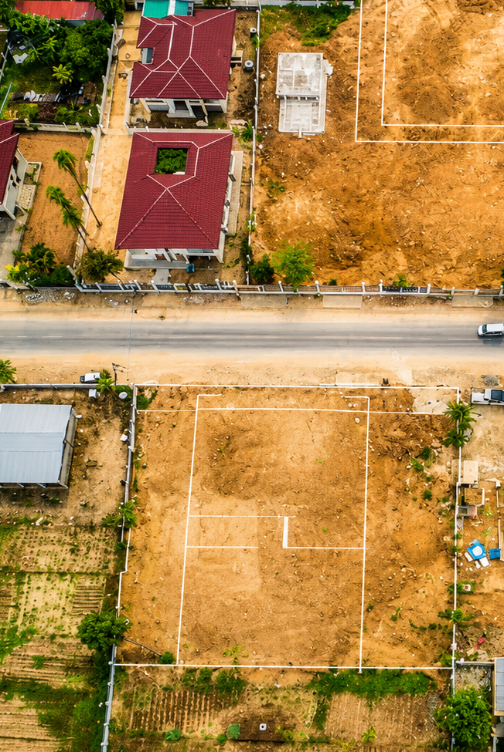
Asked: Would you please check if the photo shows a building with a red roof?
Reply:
Yes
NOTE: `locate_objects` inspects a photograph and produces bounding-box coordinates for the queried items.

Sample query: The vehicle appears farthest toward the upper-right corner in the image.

[477,324,504,338]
